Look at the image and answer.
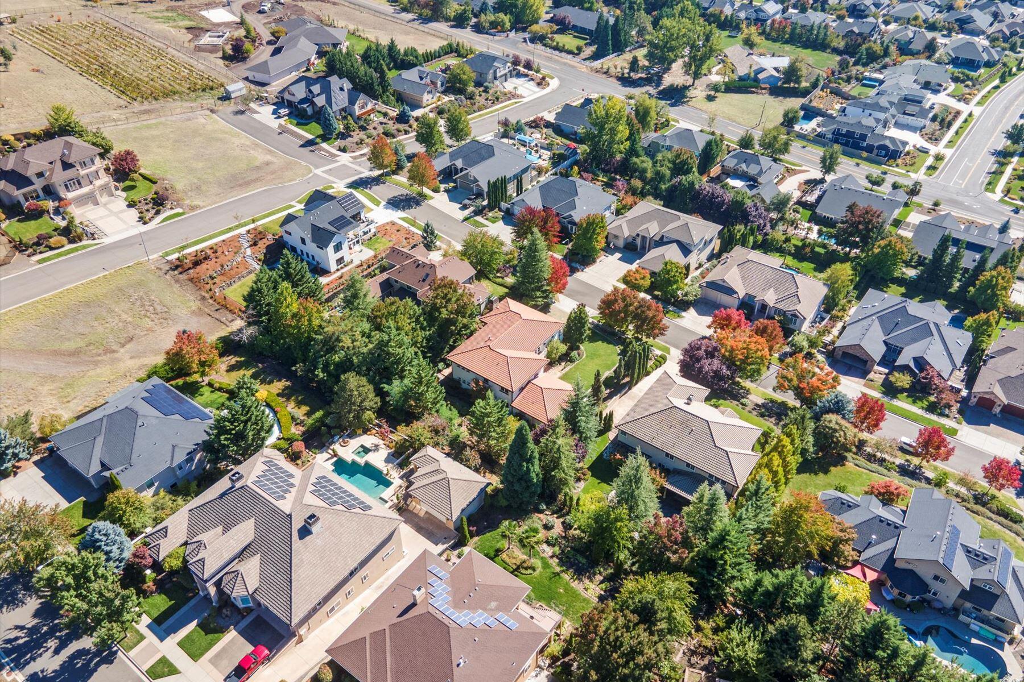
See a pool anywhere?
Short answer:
Yes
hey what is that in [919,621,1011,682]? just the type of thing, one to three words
swimming pool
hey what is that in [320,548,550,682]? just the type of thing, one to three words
house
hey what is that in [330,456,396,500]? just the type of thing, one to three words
swimming pool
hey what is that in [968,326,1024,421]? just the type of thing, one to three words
house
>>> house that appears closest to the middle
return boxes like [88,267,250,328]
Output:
[445,296,576,433]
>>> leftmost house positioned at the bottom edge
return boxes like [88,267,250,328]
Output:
[144,448,405,652]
